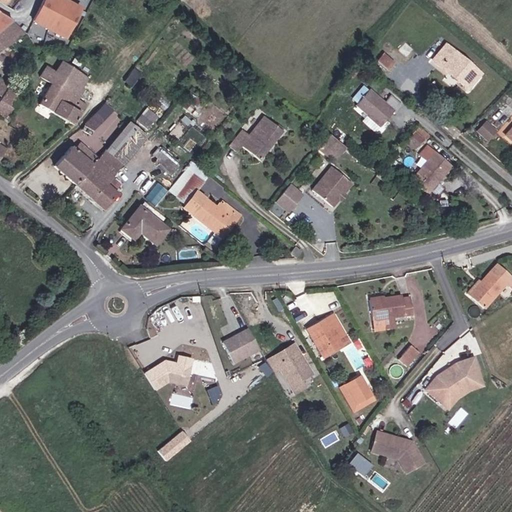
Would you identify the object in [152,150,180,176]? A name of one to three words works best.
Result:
building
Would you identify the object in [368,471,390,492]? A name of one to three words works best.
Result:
swimming pool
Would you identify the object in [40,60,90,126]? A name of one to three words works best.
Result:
house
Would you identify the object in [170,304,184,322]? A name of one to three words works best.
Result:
vehicle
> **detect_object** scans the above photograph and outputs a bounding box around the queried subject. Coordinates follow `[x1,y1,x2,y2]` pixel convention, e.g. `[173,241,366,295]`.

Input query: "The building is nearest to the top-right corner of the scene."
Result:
[428,42,484,94]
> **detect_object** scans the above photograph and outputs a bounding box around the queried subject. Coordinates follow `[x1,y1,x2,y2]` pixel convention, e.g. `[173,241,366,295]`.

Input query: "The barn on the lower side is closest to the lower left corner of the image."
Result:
[157,432,192,462]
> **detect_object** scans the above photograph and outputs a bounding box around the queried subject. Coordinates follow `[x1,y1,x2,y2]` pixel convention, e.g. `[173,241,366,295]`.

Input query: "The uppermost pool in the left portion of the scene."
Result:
[190,223,210,243]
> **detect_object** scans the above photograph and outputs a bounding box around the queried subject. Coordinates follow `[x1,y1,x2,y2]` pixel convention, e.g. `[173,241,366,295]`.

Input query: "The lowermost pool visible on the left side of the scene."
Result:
[178,249,200,261]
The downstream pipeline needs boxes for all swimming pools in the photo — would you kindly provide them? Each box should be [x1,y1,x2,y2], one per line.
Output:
[467,304,480,318]
[190,223,210,243]
[344,344,364,371]
[389,363,404,378]
[368,471,390,492]
[403,155,415,168]
[320,430,340,448]
[178,249,200,261]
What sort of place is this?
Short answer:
residential area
